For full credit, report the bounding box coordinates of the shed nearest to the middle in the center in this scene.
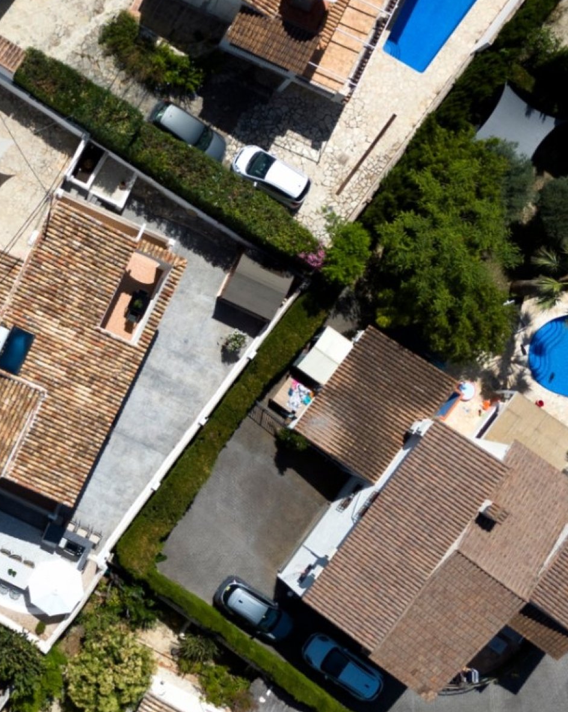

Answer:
[214,250,293,320]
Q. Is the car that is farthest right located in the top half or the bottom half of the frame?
bottom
